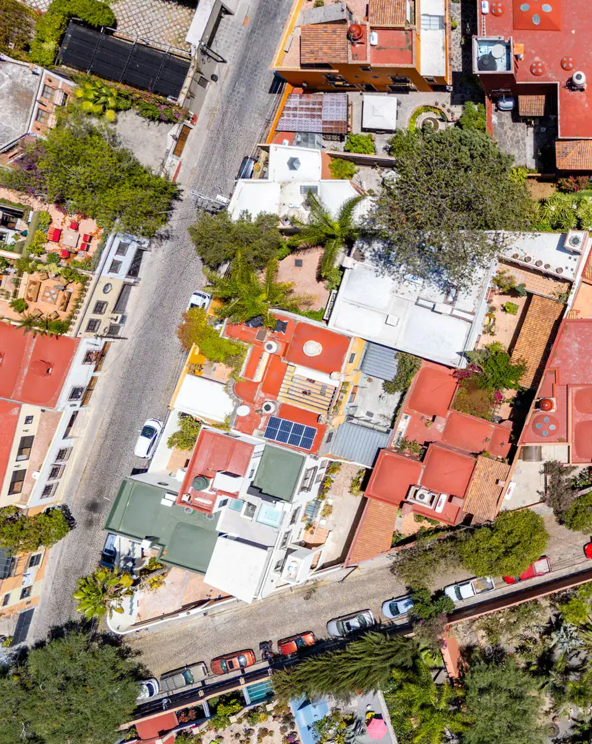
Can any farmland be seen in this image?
No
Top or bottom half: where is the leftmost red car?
bottom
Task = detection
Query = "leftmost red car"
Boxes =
[210,647,258,676]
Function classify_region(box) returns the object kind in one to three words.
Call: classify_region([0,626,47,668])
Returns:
house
